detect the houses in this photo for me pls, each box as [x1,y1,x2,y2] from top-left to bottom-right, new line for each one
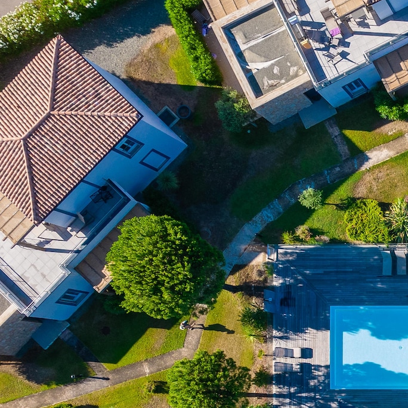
[211,0,408,130]
[0,33,184,352]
